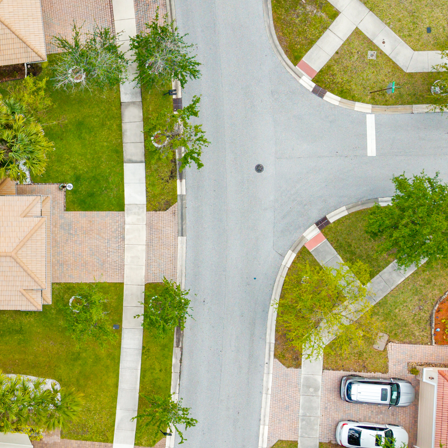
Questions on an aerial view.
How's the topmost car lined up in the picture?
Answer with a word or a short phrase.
horizontally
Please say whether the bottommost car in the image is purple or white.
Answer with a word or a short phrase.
white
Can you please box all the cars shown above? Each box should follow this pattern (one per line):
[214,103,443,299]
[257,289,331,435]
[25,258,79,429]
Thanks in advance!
[336,372,414,411]
[332,417,407,448]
